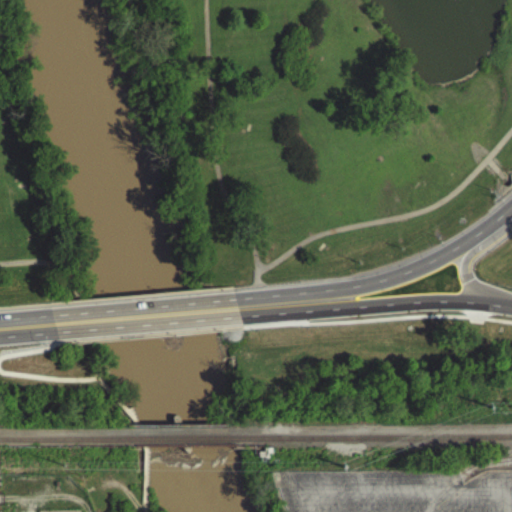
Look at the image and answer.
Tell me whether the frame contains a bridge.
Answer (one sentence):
Yes, this view includes a bridge.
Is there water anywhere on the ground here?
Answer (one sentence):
Yes, the picture does contain water.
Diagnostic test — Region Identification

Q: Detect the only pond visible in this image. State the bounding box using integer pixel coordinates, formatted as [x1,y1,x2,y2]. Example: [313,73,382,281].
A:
[376,0,503,86]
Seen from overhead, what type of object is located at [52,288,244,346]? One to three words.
bridge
